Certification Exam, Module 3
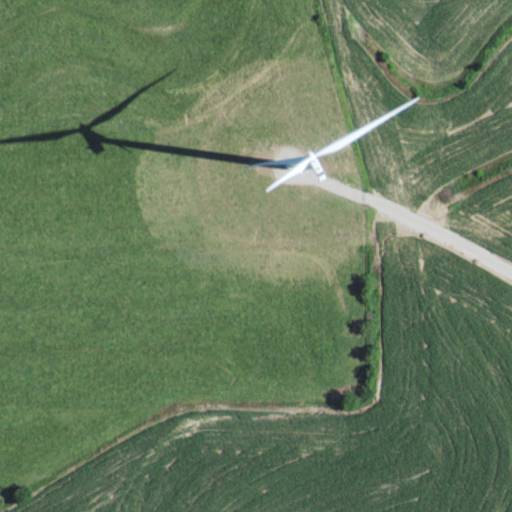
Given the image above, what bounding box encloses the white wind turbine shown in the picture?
[247,97,417,189]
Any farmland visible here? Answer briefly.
Yes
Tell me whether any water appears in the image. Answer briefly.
No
